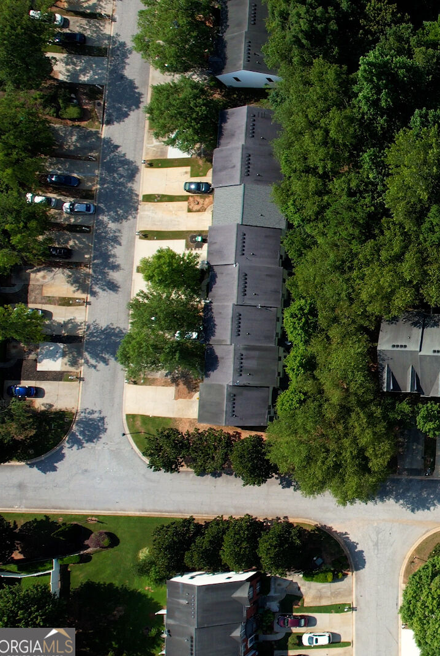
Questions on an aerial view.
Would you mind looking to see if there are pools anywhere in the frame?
No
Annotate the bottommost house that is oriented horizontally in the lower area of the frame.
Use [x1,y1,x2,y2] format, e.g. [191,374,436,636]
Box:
[164,614,260,656]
